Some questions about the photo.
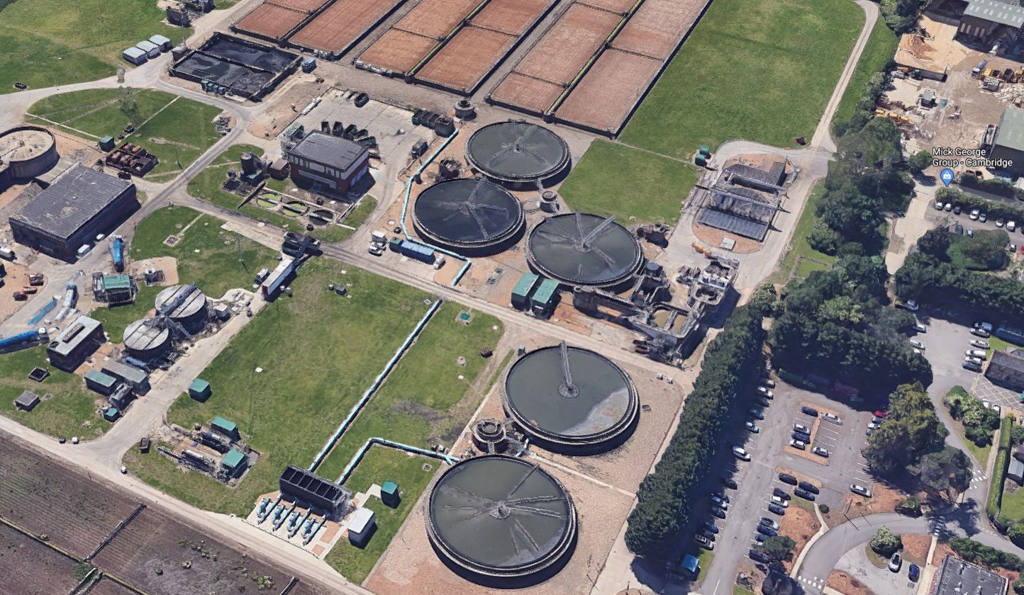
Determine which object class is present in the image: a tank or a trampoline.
tank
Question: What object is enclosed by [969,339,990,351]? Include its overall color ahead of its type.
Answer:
gray vehicle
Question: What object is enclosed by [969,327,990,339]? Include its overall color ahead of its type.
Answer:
gray vehicle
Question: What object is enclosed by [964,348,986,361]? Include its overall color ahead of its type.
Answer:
white vehicle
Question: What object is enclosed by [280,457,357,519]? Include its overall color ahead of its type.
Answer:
black storage tank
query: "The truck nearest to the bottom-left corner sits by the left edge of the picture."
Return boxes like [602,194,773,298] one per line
[0,326,42,348]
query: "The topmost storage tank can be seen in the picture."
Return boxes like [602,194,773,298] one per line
[170,37,305,100]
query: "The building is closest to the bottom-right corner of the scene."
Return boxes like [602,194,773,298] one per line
[927,552,996,595]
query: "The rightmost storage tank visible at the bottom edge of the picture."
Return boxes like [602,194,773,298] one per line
[423,452,578,586]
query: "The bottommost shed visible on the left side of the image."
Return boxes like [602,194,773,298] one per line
[348,507,376,543]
